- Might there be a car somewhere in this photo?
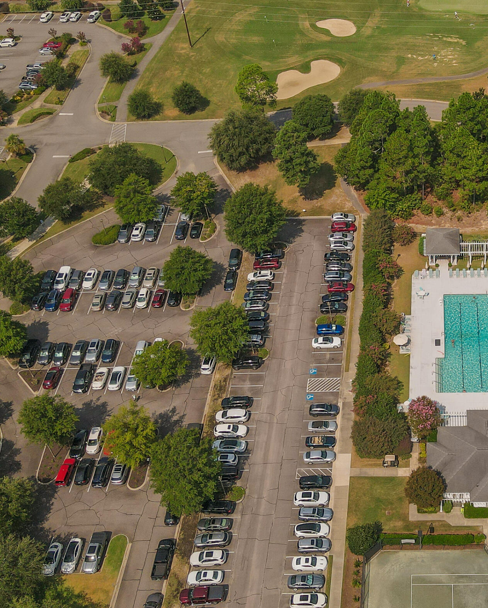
Yes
